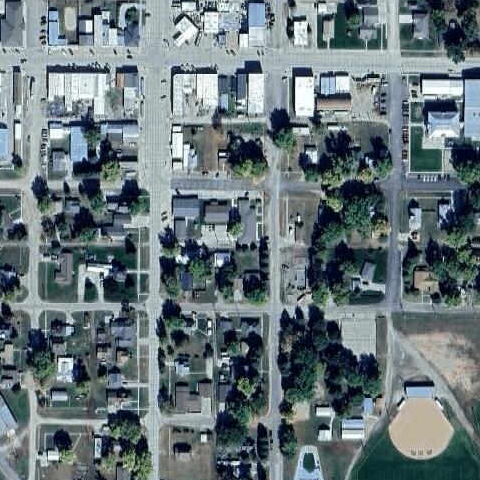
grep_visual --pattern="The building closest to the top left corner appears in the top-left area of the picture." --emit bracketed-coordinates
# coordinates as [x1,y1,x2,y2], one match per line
[1,0,23,46]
